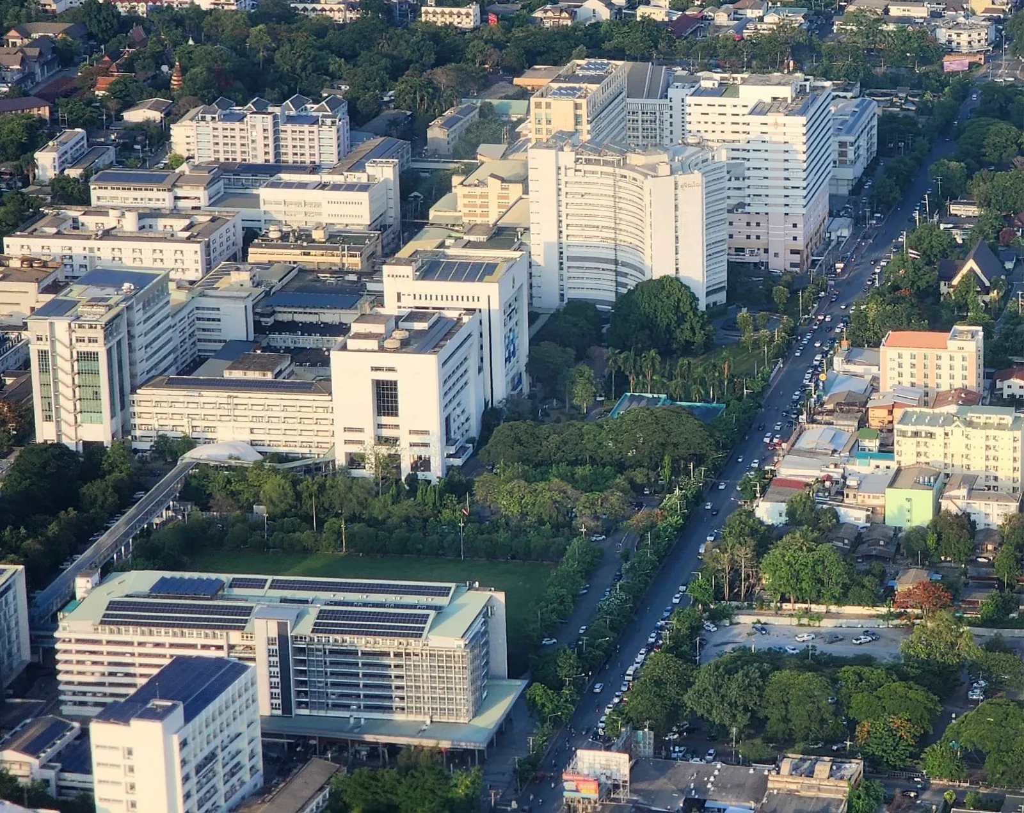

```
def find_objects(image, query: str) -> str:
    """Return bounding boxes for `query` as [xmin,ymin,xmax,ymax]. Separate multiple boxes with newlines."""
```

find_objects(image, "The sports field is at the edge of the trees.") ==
[185,550,571,674]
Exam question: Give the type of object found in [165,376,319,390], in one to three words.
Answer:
solar array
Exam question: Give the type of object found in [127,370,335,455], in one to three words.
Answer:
building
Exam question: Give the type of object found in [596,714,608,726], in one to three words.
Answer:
vehicle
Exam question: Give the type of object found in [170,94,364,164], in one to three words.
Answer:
building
